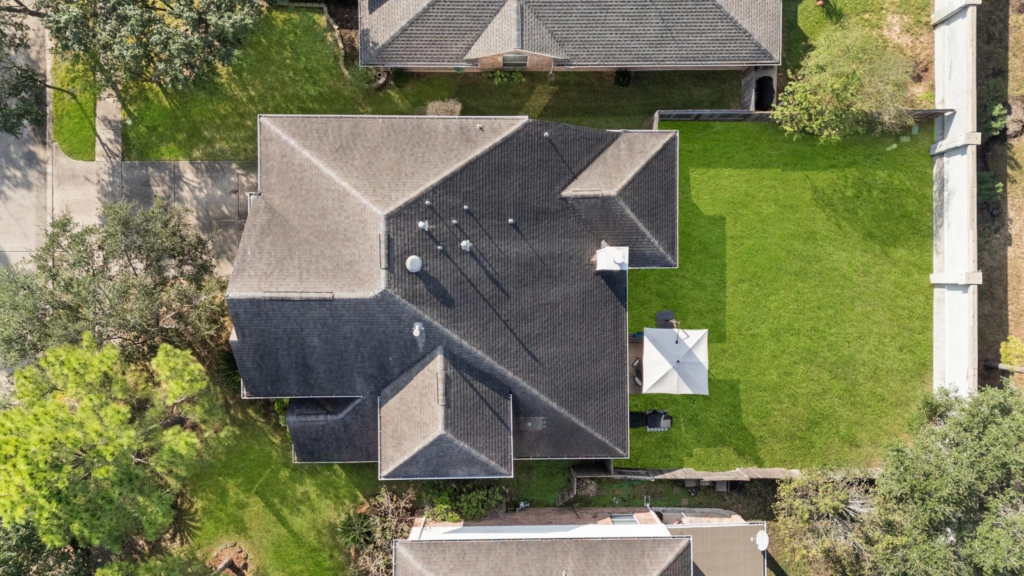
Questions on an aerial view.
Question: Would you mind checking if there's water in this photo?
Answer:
No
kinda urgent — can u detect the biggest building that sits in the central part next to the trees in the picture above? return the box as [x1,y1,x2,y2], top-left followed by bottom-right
[226,115,681,482]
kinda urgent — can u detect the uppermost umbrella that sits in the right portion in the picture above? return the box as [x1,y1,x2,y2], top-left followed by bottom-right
[642,311,709,395]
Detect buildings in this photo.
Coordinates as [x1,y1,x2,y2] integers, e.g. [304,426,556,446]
[226,115,681,482]
[357,0,784,78]
[391,502,695,576]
